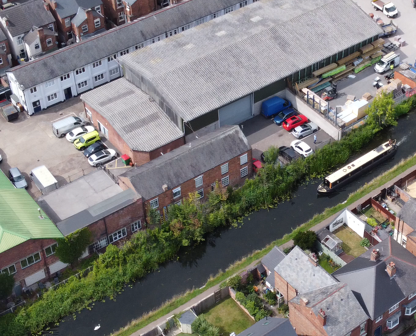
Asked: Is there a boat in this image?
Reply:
Yes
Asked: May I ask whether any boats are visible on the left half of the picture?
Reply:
No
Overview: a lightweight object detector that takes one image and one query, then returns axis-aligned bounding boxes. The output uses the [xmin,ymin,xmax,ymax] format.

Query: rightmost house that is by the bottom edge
[339,234,416,336]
